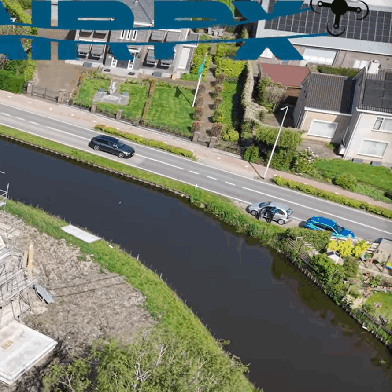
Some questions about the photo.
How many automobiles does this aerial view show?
3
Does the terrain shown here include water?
Yes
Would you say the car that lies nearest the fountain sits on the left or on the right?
left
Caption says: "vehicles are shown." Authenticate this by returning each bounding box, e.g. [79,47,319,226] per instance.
[309,213,371,241]
[89,131,139,159]
[247,198,307,225]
